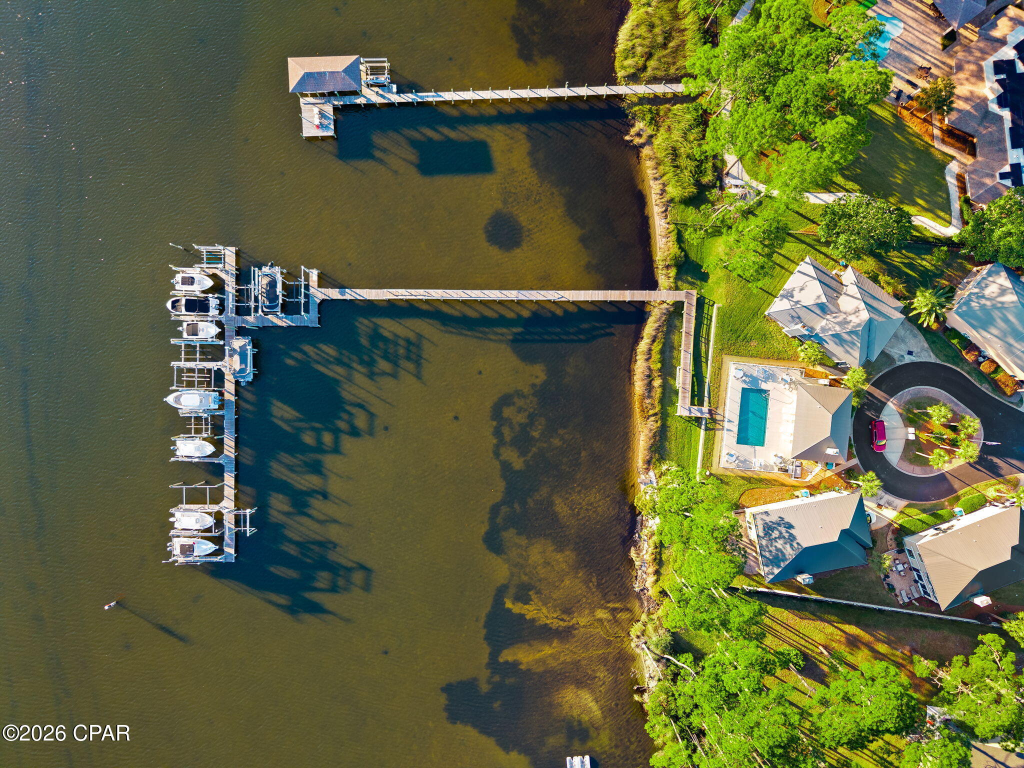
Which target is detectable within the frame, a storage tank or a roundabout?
roundabout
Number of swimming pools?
2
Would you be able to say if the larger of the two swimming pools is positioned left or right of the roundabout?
left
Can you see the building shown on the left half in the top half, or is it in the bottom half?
top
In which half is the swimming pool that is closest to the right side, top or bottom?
top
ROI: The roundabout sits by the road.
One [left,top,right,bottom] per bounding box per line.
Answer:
[880,386,984,476]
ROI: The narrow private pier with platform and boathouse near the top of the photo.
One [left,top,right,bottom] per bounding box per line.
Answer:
[298,63,684,142]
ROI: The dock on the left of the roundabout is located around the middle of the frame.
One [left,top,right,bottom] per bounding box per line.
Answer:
[176,247,716,564]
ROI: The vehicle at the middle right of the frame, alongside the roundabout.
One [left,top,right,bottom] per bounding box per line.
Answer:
[867,419,886,452]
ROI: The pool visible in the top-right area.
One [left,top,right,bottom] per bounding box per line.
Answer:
[855,12,906,63]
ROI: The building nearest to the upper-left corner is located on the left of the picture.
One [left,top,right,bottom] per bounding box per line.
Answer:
[288,55,363,98]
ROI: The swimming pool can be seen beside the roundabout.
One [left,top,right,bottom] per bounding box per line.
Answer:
[720,363,852,472]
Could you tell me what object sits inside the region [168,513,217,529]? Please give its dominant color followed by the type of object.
white boat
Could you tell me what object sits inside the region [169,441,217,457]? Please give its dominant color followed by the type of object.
white boat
